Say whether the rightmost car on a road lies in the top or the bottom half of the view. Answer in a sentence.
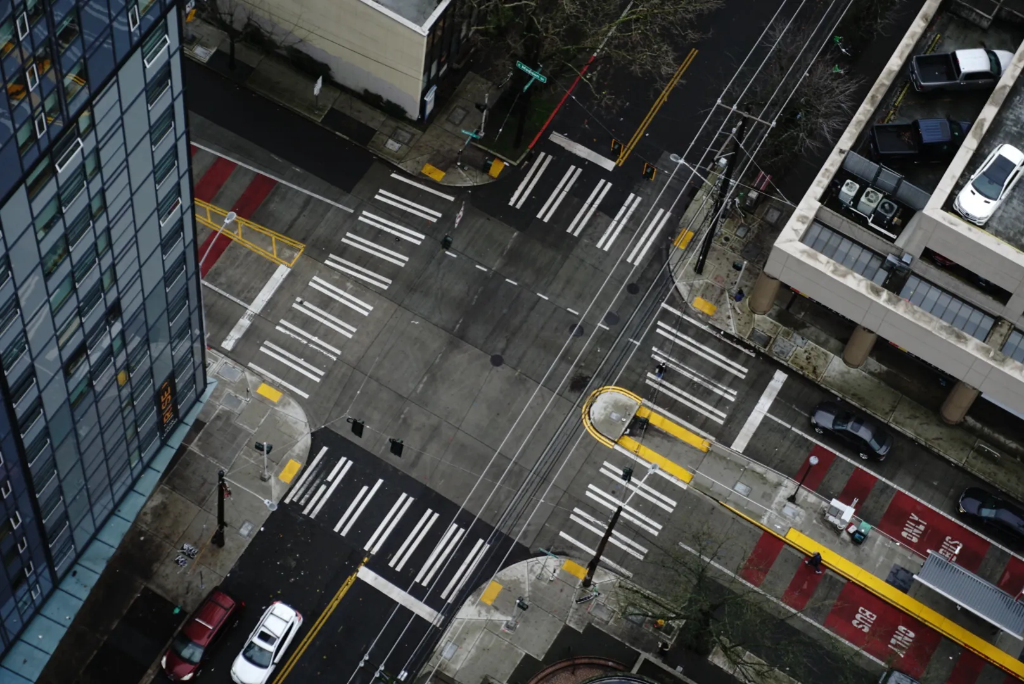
Seen from above, the rightmost car on a road lies in the bottom half of the view.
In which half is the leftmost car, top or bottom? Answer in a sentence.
The bottom half of the photo is where the leftmost car is.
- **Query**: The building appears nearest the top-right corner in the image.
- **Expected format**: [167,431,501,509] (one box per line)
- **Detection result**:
[750,0,1024,425]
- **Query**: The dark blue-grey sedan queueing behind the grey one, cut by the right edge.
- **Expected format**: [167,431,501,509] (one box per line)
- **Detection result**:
[953,488,1024,553]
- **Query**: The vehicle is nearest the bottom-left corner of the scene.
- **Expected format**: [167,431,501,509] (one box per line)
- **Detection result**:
[166,592,246,684]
